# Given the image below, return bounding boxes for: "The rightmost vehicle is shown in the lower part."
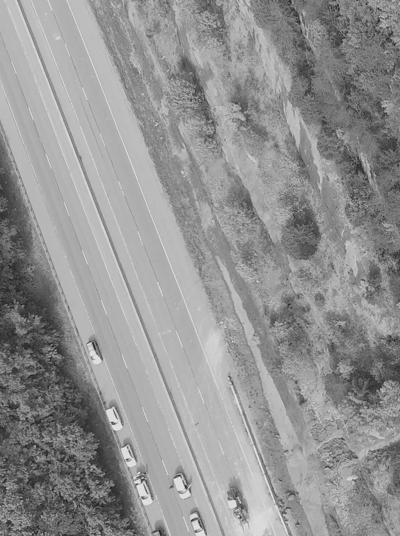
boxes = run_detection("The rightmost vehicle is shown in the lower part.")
[228,491,250,529]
